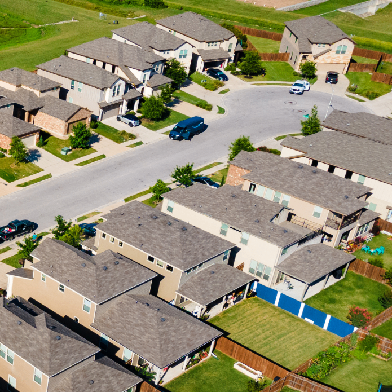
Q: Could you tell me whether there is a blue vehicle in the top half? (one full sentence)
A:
Yes, there is a blue vehicle in the top half.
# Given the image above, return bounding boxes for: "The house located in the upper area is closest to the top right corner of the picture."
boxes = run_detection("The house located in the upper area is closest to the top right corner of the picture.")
[284,22,358,74]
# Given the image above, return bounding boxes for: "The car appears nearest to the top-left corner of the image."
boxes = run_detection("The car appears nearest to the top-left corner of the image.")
[113,114,137,127]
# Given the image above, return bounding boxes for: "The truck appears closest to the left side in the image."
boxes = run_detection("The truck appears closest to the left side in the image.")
[0,216,33,239]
